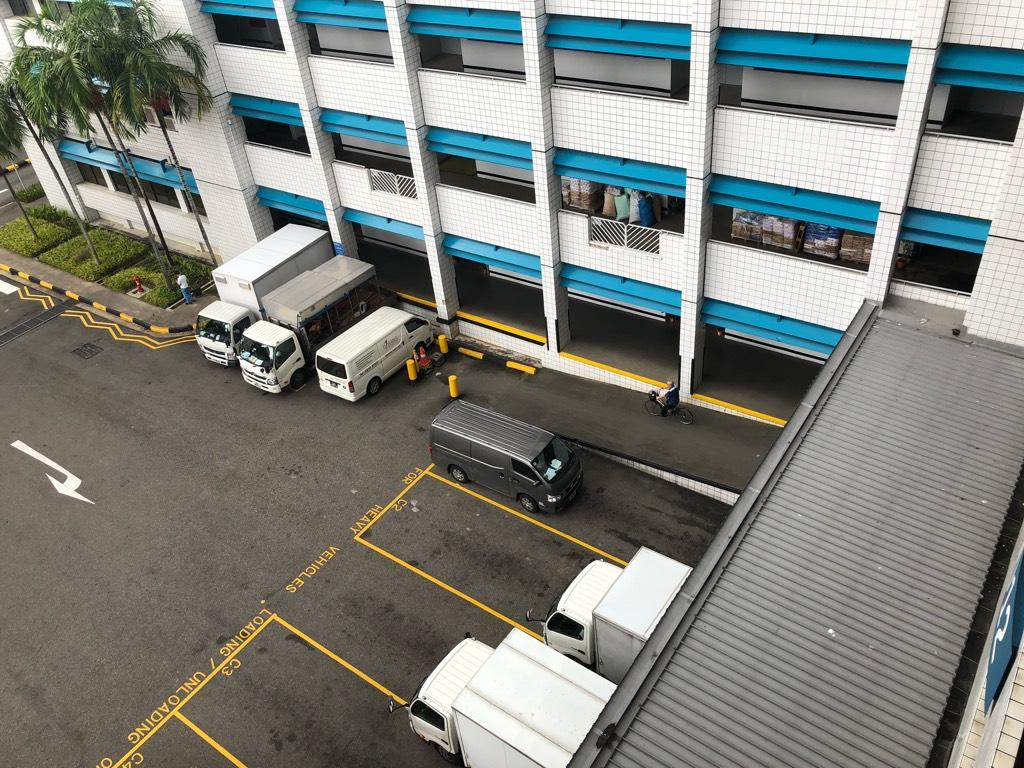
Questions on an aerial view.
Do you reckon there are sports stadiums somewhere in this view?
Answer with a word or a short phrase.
No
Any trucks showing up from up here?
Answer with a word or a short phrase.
Yes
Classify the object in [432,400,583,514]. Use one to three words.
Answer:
van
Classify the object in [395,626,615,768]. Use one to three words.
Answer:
truck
